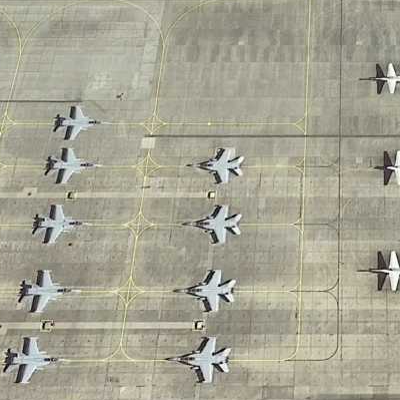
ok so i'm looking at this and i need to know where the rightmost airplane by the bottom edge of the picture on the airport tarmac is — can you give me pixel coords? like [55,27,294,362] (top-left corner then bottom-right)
[166,338,231,383]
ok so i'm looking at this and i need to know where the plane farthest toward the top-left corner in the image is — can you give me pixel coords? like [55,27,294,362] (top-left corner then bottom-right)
[56,107,112,140]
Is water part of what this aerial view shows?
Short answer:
No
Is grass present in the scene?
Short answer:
No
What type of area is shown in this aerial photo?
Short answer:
airport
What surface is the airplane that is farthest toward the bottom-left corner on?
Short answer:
apron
